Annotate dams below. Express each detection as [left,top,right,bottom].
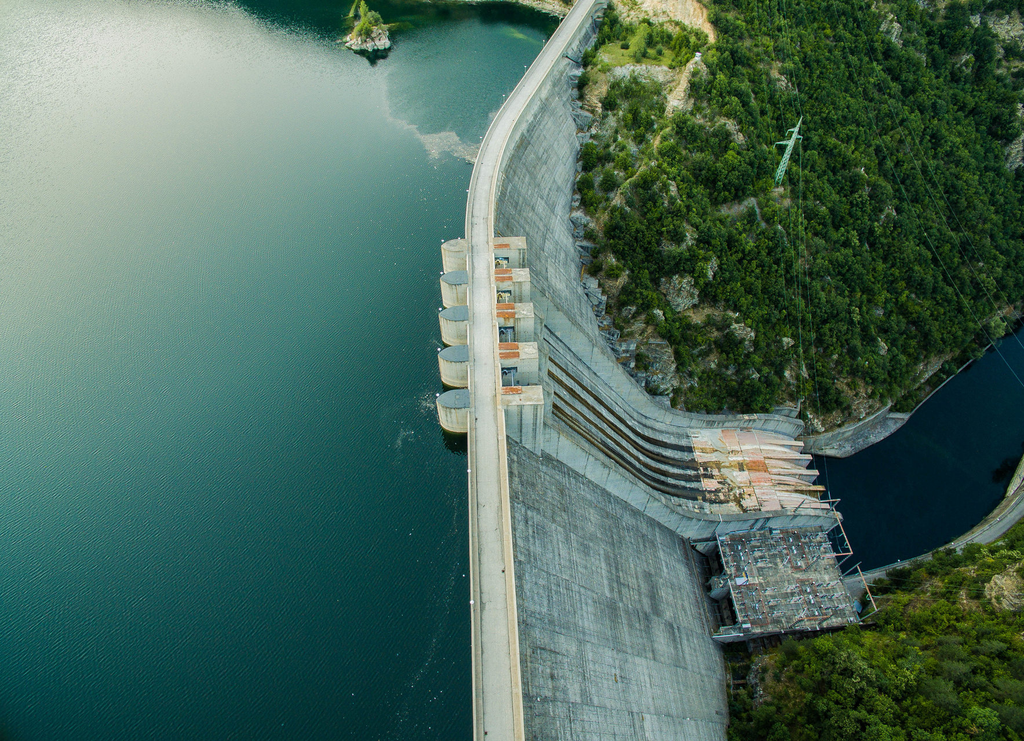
[435,0,839,741]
